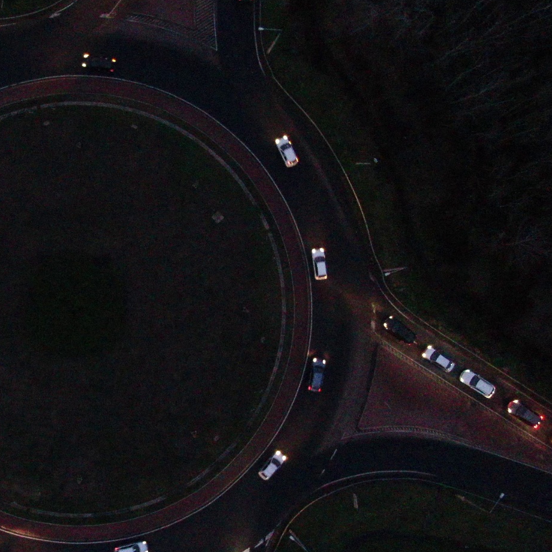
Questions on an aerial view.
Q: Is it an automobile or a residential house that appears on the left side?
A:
automobile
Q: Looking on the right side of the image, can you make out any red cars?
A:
No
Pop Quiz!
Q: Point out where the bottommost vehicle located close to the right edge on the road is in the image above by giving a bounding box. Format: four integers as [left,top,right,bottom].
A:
[509,402,540,426]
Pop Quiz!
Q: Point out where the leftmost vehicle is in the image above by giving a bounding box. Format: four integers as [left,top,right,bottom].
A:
[84,54,114,72]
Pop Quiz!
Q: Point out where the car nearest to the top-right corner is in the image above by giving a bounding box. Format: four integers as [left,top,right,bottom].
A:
[274,137,296,168]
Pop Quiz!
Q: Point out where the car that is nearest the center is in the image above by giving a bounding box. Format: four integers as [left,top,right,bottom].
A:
[309,247,327,281]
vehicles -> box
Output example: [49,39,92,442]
[84,54,114,72]
[460,370,494,397]
[260,451,284,480]
[307,360,325,389]
[116,541,146,552]
[383,317,416,344]
[422,346,455,372]
[274,137,296,168]
[309,247,327,281]
[509,402,540,426]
